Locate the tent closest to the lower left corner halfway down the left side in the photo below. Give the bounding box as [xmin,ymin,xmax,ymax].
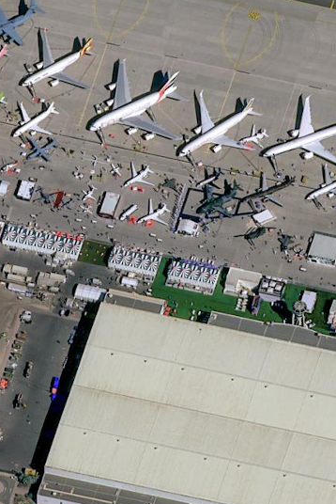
[74,283,106,304]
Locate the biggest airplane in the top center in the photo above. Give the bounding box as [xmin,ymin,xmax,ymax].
[89,58,189,140]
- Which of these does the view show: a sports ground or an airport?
airport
